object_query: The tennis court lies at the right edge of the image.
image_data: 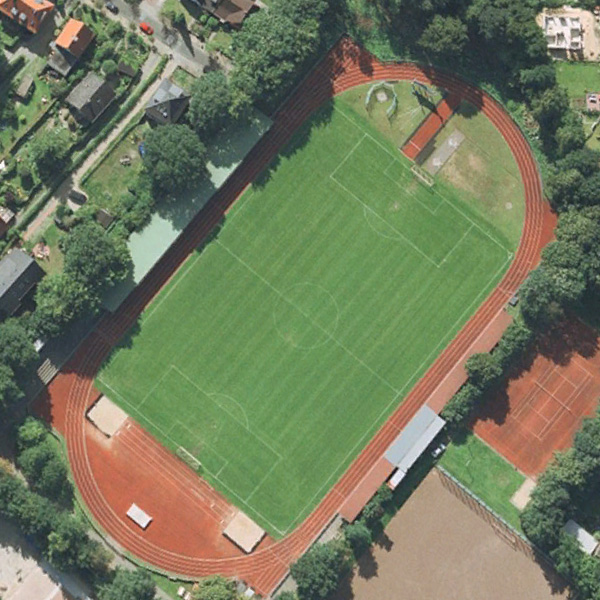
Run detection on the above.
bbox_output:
[474,316,600,486]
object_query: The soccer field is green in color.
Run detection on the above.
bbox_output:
[93,96,518,539]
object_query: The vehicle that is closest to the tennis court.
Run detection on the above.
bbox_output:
[431,445,446,458]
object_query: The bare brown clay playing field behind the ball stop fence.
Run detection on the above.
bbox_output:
[339,468,597,600]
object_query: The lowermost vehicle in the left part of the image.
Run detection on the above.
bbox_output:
[69,190,86,203]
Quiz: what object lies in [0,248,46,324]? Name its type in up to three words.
house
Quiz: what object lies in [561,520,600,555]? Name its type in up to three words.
shed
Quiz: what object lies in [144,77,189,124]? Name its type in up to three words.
house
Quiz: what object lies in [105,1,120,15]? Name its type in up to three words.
vehicle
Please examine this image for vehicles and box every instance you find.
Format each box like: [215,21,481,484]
[431,445,446,458]
[69,190,86,203]
[139,22,154,35]
[105,1,120,15]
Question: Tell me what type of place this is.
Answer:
sports ground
